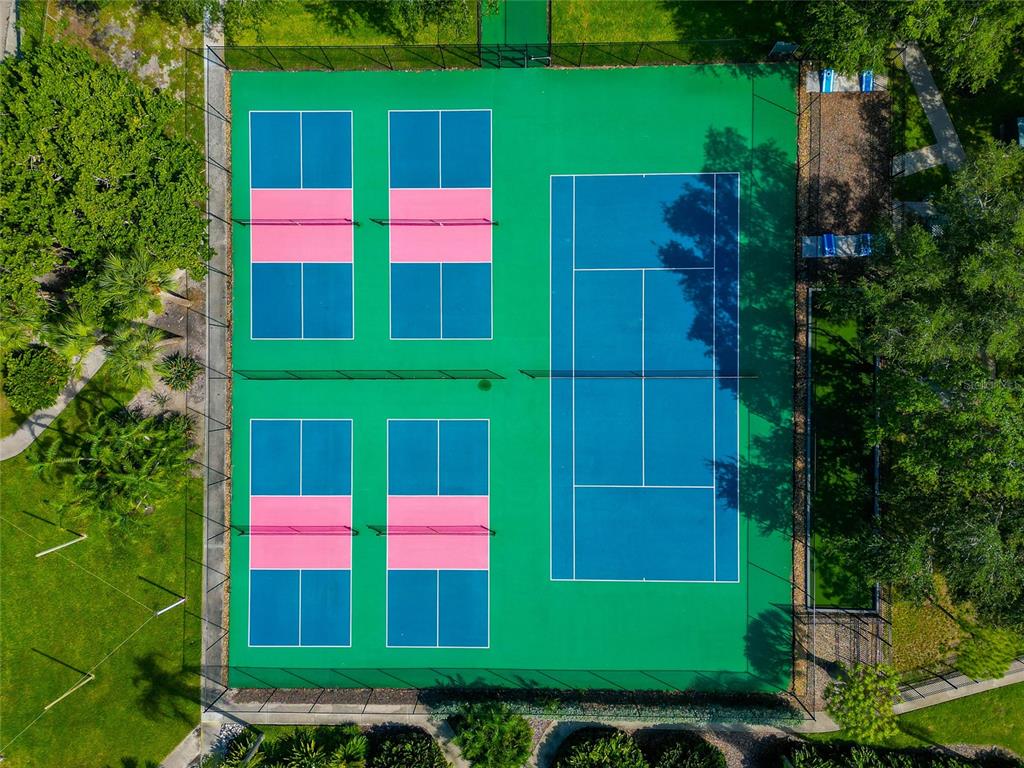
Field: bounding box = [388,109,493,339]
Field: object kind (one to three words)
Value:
sports court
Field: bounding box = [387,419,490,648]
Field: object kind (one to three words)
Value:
sports court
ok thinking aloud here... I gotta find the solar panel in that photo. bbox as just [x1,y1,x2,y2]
[763,41,800,75]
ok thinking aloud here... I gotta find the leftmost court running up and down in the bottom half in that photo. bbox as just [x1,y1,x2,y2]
[248,419,352,647]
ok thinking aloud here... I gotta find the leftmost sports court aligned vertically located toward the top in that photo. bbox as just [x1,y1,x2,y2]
[249,110,354,340]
